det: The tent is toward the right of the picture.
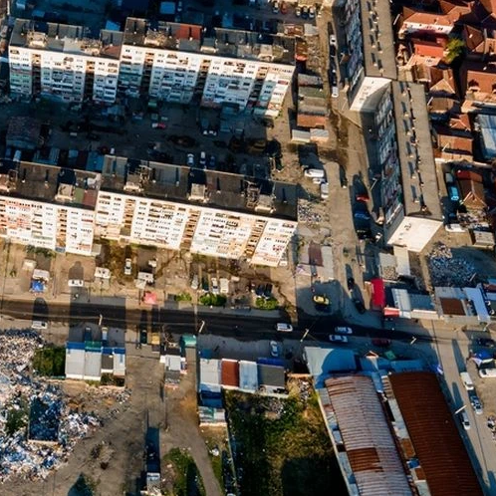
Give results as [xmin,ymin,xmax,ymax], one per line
[469,347,496,367]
